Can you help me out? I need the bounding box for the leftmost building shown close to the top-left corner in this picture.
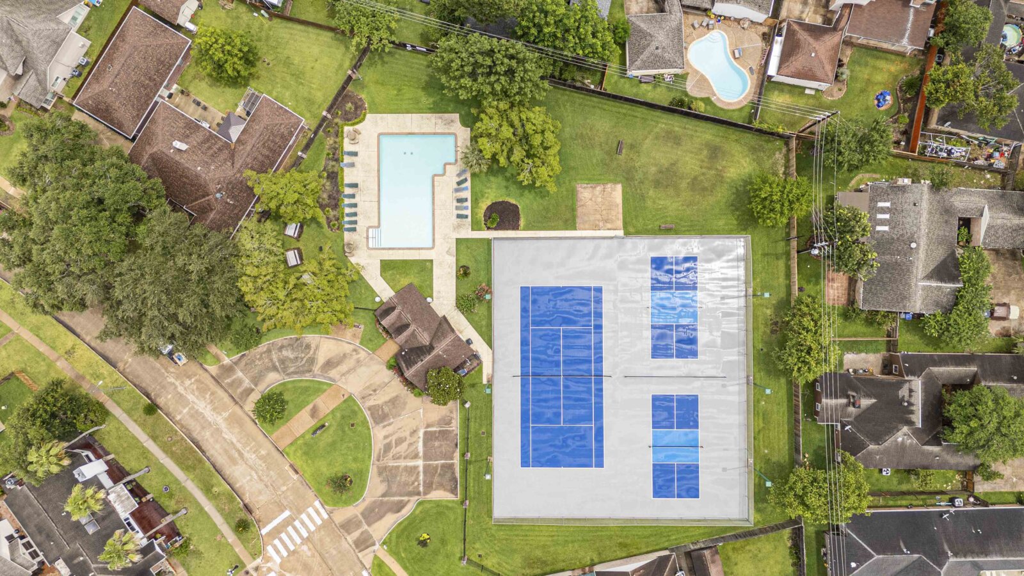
[0,0,111,112]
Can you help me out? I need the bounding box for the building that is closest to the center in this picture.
[375,284,478,391]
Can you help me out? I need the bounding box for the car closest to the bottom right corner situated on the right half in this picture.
[990,302,1020,321]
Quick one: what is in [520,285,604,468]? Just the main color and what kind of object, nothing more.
blue tennis court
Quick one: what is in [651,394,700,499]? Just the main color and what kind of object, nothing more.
blue sports court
